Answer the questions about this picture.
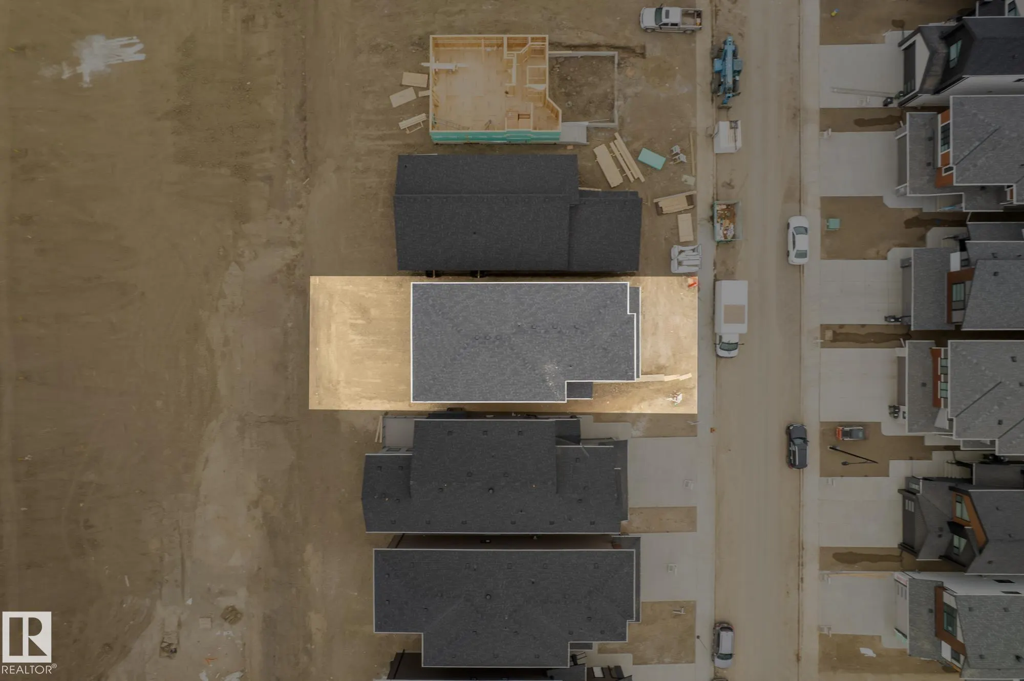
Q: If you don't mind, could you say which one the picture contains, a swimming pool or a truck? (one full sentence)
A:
Visible in the photo is a truck.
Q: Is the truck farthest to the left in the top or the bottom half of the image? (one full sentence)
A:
Seen from above, the truck farthest to the left lies in the top half of the view.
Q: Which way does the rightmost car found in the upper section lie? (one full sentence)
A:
The rightmost car found in the upper section has been laid out up and down relative to the frame.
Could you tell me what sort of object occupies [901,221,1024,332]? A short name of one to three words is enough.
house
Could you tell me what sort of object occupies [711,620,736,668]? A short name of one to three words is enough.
car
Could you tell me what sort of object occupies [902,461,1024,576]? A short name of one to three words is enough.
house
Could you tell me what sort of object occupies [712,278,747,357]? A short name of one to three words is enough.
truck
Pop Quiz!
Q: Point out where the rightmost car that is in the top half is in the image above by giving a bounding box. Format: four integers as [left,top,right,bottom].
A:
[785,216,810,265]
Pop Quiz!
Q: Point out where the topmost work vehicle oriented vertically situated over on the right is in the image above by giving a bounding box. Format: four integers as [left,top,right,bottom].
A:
[709,37,744,122]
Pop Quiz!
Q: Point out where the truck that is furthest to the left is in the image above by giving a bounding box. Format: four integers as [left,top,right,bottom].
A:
[638,2,703,35]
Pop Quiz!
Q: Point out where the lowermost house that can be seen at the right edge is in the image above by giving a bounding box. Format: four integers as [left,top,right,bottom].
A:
[894,573,1024,681]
